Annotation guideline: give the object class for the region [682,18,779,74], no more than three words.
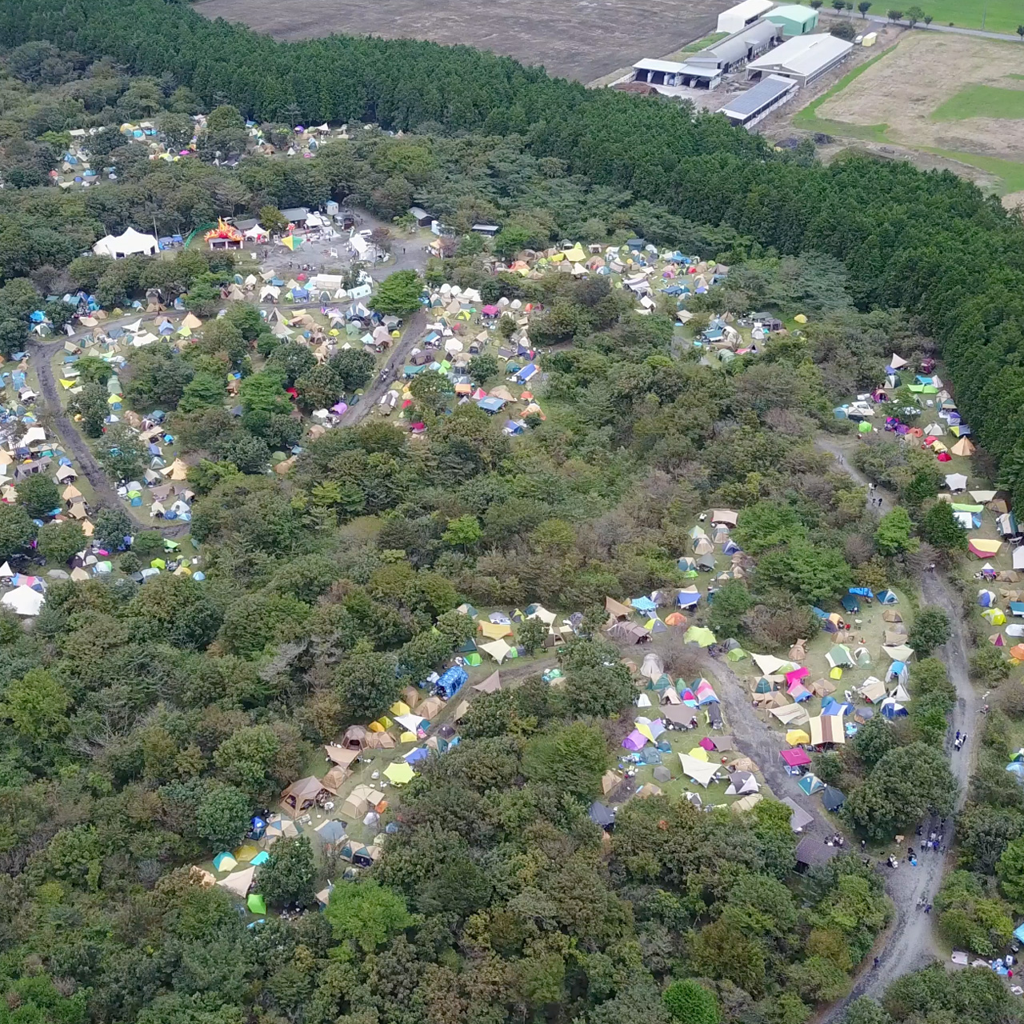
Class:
barn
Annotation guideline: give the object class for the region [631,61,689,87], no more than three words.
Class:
shed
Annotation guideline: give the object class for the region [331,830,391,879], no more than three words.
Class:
tent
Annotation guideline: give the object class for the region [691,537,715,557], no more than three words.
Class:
tent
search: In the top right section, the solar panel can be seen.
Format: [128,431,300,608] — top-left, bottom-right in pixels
[720,78,793,117]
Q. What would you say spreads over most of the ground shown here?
trees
